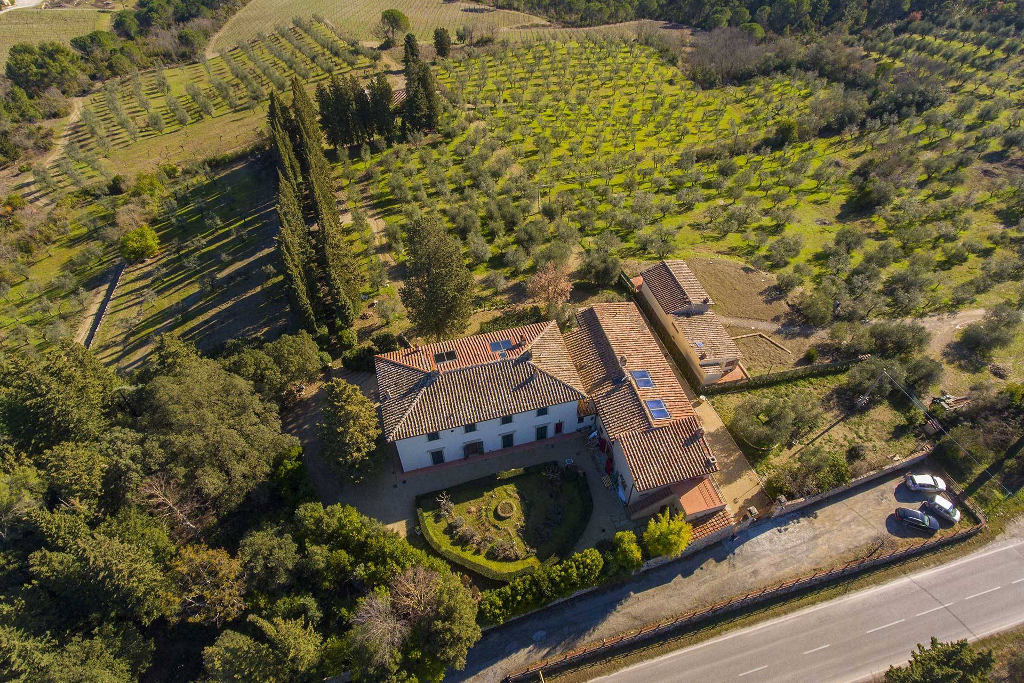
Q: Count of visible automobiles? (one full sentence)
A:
The count of automobiles comes to 3.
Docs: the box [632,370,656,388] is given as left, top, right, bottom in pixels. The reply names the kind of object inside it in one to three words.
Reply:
solar panel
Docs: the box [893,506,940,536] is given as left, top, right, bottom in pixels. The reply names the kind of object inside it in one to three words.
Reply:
car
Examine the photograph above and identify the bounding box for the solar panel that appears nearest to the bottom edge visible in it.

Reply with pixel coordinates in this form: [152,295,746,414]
[647,398,671,419]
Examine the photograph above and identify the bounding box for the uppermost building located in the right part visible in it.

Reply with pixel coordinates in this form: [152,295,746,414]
[634,257,758,394]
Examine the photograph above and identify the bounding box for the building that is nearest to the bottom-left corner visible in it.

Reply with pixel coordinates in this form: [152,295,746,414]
[373,318,589,472]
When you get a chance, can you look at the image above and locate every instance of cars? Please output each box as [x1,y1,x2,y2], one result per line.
[903,475,947,496]
[893,506,940,536]
[921,493,964,525]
